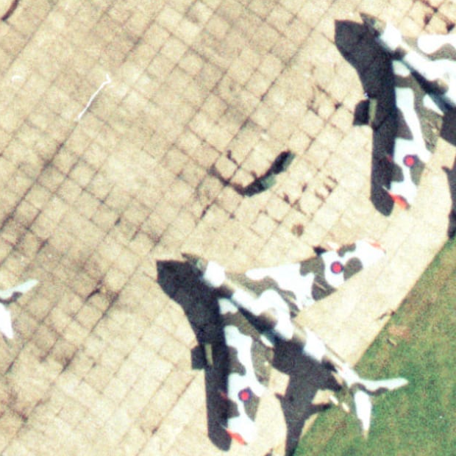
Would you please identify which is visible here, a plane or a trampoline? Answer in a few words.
plane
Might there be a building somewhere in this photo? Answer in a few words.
No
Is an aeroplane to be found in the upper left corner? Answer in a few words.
No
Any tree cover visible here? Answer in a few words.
No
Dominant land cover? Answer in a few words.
paved ground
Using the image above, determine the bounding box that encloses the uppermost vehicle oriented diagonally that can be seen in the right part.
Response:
[277,148,299,176]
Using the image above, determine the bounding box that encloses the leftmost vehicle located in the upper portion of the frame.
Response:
[254,171,281,193]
